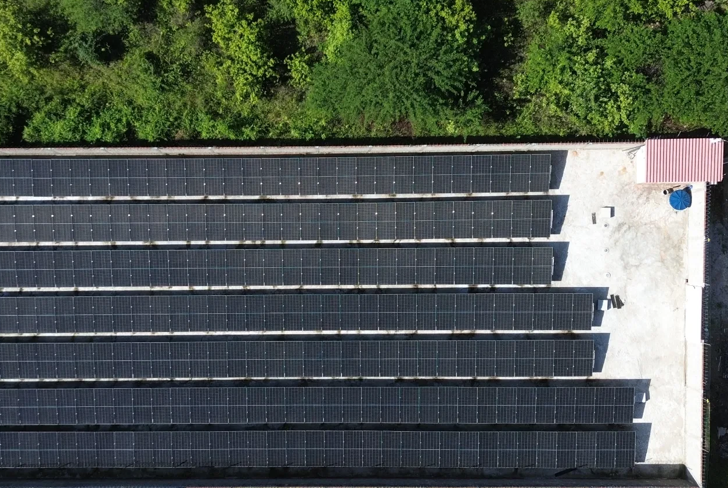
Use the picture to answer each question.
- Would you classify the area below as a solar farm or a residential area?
solar farm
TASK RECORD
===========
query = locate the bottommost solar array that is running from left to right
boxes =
[0,432,636,469]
